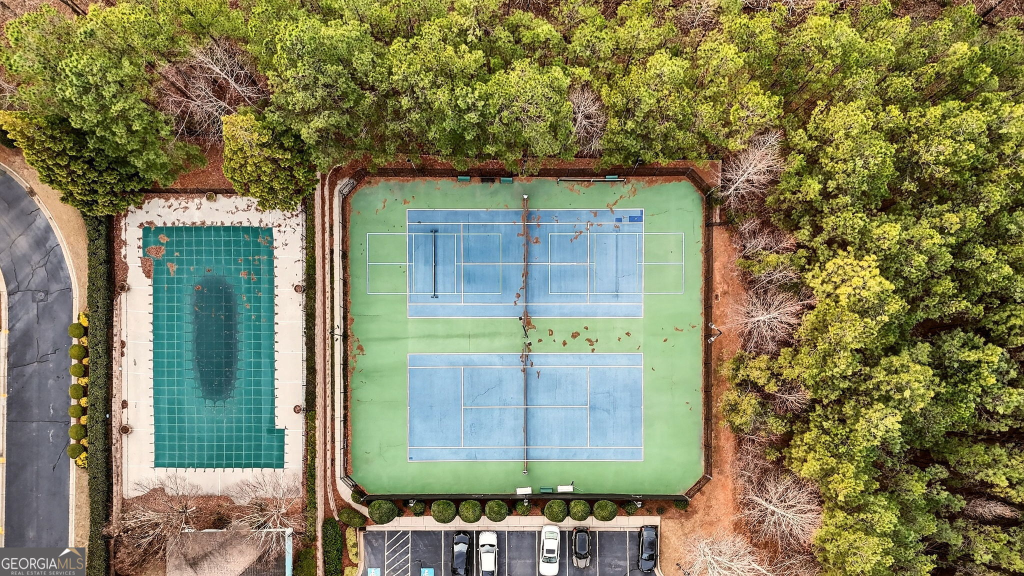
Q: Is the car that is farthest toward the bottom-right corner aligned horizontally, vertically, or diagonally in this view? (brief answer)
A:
vertically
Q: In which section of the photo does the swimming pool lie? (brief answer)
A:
left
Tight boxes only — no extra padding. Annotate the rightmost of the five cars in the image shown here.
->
[639,526,661,573]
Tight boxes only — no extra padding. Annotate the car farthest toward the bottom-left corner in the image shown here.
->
[449,531,471,576]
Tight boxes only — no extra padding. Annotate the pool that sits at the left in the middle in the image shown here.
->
[138,223,288,472]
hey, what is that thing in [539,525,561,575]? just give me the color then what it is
white car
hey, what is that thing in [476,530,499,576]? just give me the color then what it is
white car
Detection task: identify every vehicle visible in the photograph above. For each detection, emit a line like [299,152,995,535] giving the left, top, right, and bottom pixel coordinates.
[449,531,471,576]
[639,526,661,573]
[539,525,561,575]
[476,530,499,576]
[571,527,593,568]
